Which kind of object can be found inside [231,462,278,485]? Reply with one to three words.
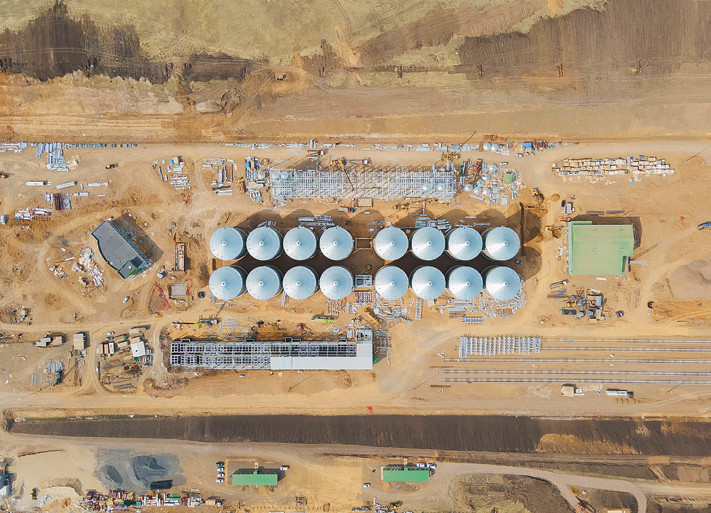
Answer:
building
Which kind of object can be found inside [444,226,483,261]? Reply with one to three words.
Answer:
silo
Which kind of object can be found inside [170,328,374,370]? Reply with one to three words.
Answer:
building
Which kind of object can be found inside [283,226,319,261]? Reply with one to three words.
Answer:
silo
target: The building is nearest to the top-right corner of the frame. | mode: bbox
[566,221,637,276]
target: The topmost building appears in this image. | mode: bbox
[269,162,458,199]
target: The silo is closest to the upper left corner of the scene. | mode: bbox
[209,226,248,261]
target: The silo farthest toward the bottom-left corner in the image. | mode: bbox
[209,265,248,301]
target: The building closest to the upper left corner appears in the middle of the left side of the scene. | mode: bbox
[92,219,156,281]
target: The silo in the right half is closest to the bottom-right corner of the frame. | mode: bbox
[480,265,520,301]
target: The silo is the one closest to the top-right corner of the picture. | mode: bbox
[481,226,520,261]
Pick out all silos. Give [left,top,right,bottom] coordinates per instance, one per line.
[373,265,408,301]
[246,265,284,301]
[481,226,520,261]
[209,226,248,261]
[444,265,483,301]
[444,226,483,261]
[283,226,319,261]
[480,265,520,301]
[408,265,446,301]
[319,226,354,261]
[319,265,354,301]
[246,226,283,261]
[373,226,408,261]
[408,226,446,261]
[209,265,248,301]
[283,265,319,301]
